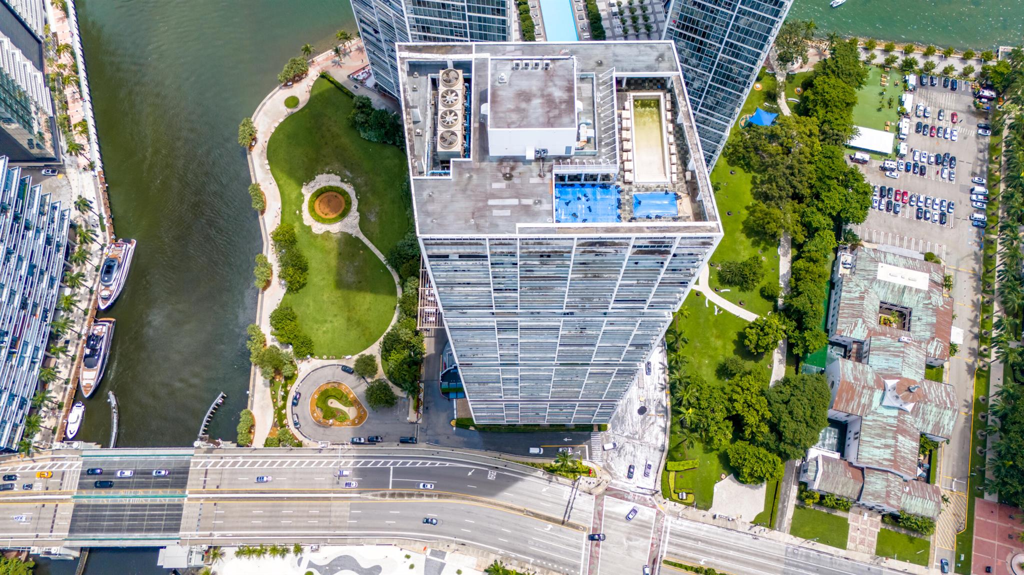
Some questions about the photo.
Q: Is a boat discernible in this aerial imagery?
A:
Yes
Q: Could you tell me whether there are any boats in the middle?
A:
No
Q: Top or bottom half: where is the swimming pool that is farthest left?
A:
top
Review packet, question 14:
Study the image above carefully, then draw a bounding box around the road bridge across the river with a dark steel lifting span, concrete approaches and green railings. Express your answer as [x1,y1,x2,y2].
[0,436,359,562]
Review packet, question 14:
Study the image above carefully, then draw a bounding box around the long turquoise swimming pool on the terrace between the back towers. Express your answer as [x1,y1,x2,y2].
[539,0,579,41]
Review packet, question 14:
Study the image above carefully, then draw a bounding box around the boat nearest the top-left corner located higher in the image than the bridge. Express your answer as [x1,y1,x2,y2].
[100,238,134,309]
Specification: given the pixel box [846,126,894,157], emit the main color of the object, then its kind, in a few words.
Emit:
white tent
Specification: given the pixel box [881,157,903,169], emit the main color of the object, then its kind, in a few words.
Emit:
white vehicle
